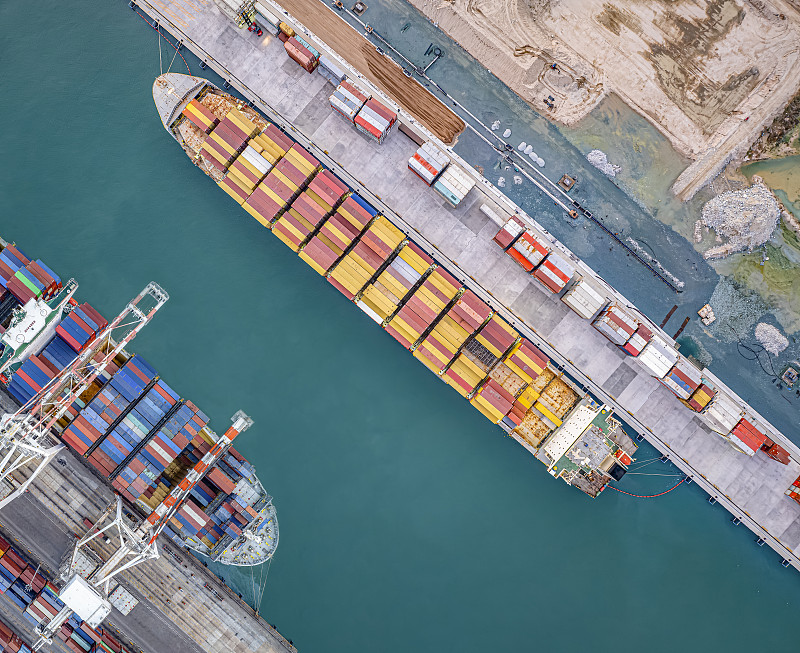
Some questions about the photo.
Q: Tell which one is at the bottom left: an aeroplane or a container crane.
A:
container crane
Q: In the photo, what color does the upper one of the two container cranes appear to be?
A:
white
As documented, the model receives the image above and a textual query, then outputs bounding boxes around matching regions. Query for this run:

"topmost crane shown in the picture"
[0,280,171,506]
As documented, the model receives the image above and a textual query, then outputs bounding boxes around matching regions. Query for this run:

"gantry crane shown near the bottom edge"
[12,401,248,653]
